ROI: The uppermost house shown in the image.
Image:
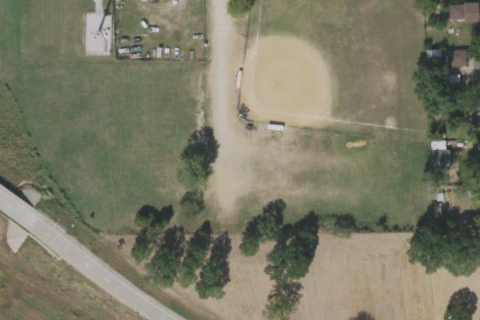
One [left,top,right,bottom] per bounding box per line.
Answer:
[450,2,480,22]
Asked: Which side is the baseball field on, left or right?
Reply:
right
